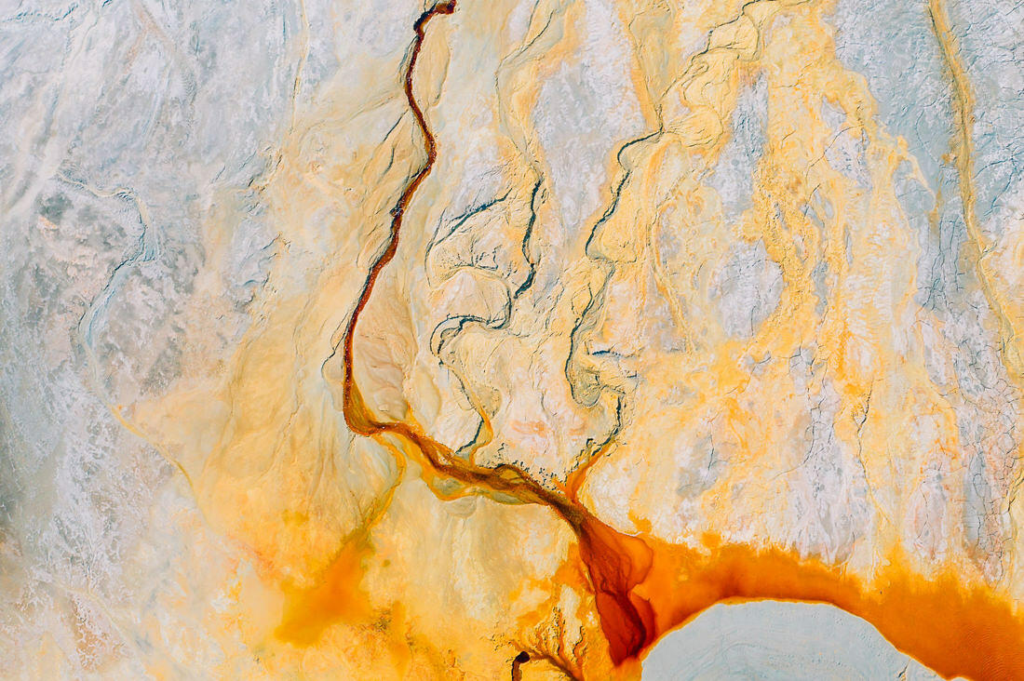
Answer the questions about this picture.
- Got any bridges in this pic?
No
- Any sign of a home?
No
